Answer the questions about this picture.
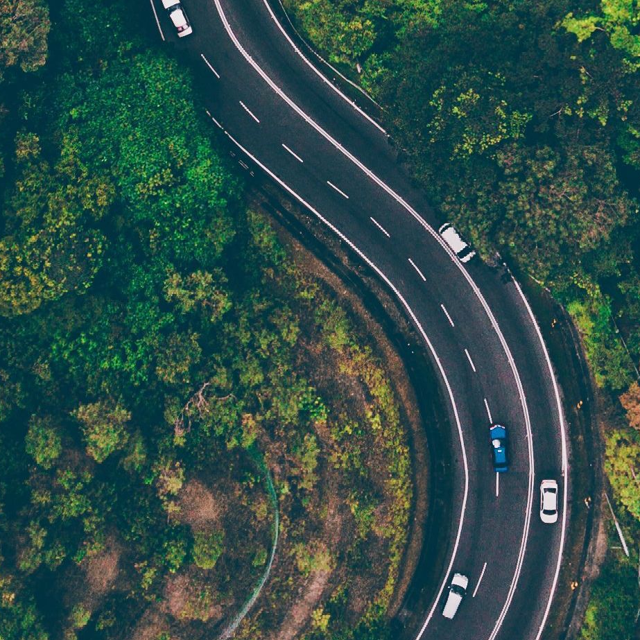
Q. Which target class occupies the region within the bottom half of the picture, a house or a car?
car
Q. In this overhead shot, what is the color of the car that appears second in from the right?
blue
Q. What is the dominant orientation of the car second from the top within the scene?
on a diagonal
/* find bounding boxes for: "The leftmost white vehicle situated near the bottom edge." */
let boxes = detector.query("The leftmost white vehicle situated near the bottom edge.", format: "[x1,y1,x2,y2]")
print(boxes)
[441,575,468,621]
